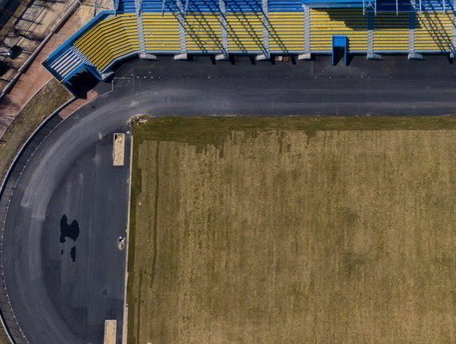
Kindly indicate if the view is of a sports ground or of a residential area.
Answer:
sports ground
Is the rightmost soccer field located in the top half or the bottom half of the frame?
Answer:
bottom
